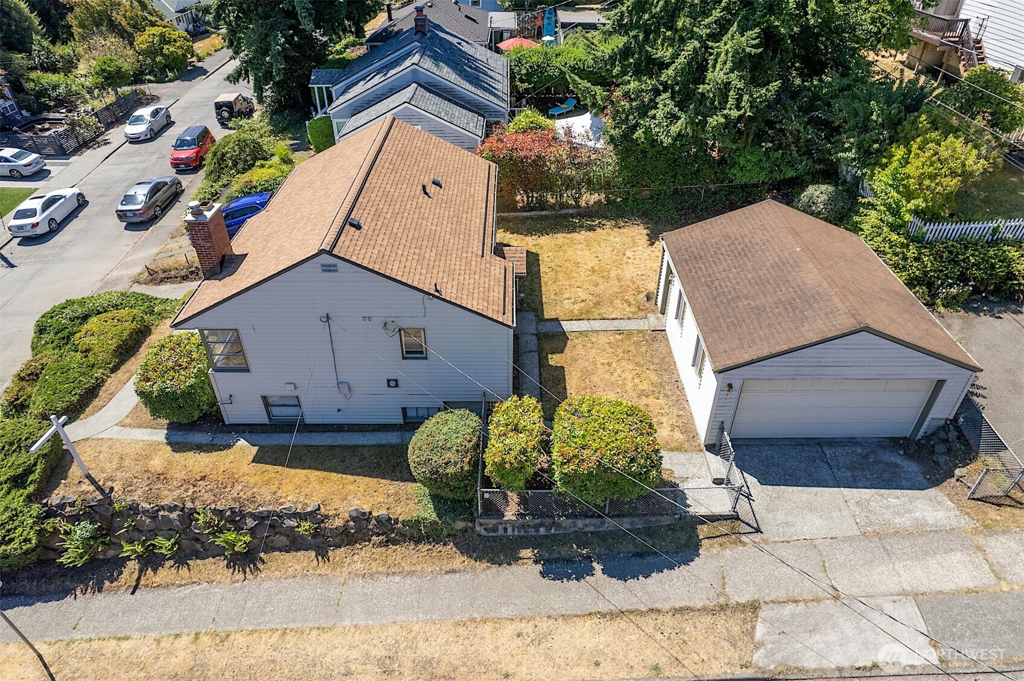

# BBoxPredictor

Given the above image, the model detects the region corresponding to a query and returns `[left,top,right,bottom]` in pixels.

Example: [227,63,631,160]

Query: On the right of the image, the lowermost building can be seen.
[657,197,985,447]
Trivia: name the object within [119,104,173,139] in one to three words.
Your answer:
car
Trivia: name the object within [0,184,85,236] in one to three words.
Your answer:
car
